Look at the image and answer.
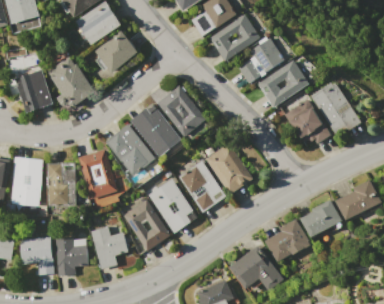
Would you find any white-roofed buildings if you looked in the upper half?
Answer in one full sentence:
Yes, a white-roofed building is visible in the upper half.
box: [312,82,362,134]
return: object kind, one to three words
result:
house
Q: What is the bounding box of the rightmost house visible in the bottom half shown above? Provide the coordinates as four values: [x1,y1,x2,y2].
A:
[336,180,382,220]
